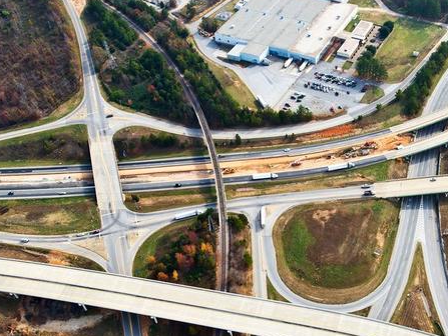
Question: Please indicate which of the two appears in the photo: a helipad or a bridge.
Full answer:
Of the two, only a bridge appears.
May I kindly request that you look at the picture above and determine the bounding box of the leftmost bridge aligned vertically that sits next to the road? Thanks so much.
[88,138,125,207]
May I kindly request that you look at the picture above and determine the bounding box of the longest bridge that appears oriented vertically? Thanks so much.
[195,111,228,222]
